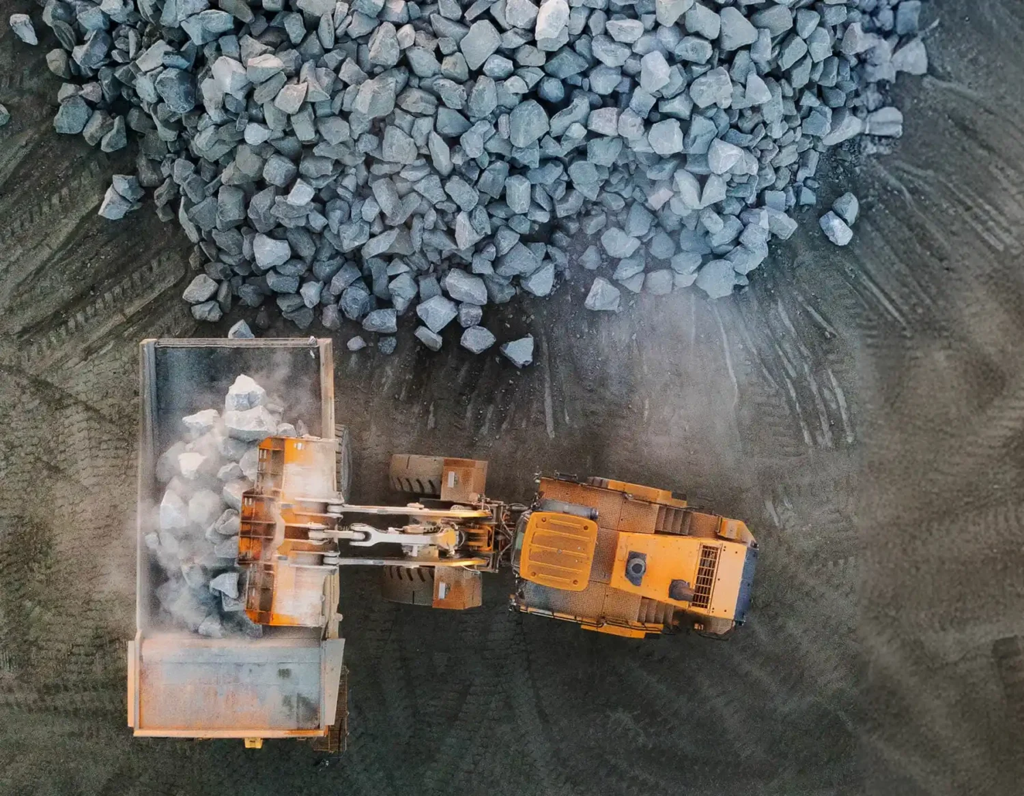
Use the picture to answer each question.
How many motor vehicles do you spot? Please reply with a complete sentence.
In total, there are 2 motor vehicles in the scene.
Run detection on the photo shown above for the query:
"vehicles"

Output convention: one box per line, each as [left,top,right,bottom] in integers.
[128,338,363,768]
[232,437,760,641]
